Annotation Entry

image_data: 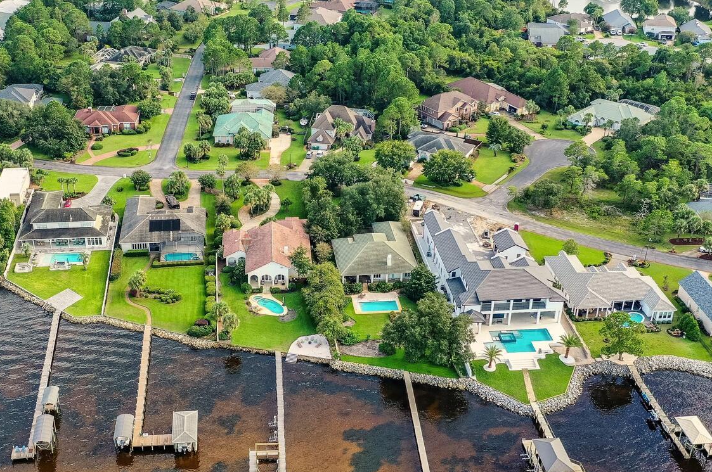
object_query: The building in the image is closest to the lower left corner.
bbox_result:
[172,411,200,468]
